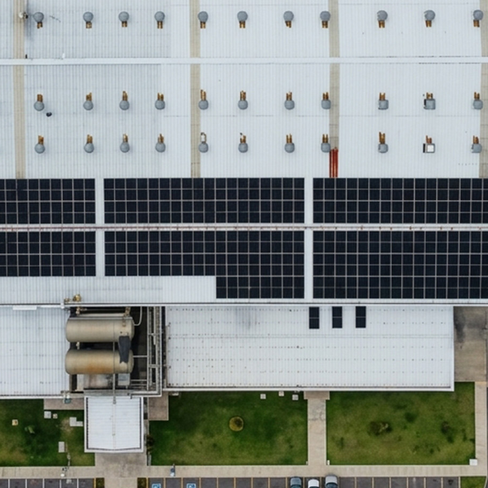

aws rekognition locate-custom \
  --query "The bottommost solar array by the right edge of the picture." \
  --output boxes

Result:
[313,231,488,299]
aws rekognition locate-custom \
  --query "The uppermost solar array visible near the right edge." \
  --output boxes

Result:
[313,178,488,223]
